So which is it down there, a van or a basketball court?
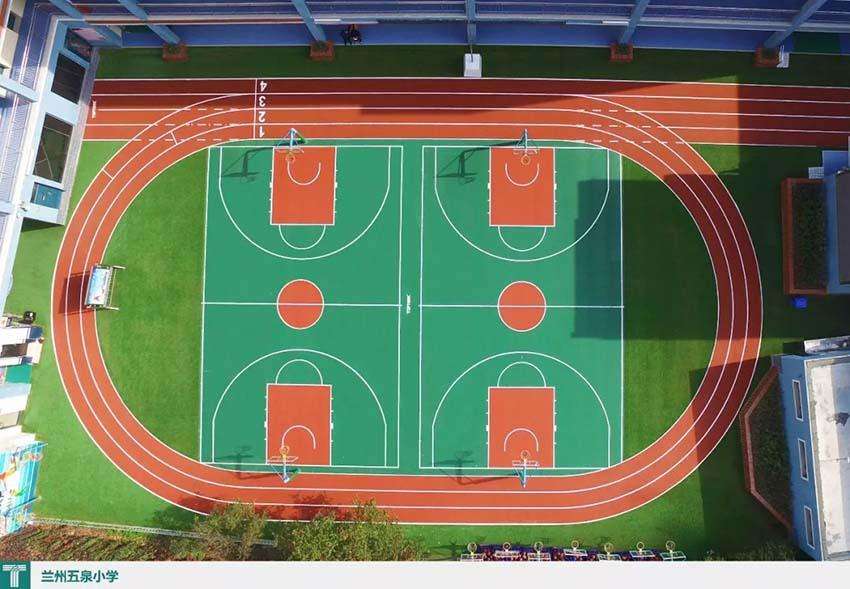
basketball court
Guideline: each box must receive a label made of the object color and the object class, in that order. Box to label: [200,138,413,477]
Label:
green basketball court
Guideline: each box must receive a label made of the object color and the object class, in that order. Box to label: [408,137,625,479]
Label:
green basketball court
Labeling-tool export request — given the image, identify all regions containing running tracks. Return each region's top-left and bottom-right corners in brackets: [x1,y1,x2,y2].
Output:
[51,76,850,529]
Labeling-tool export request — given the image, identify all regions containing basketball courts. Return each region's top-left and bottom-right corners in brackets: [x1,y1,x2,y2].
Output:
[200,138,413,477]
[408,137,625,479]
